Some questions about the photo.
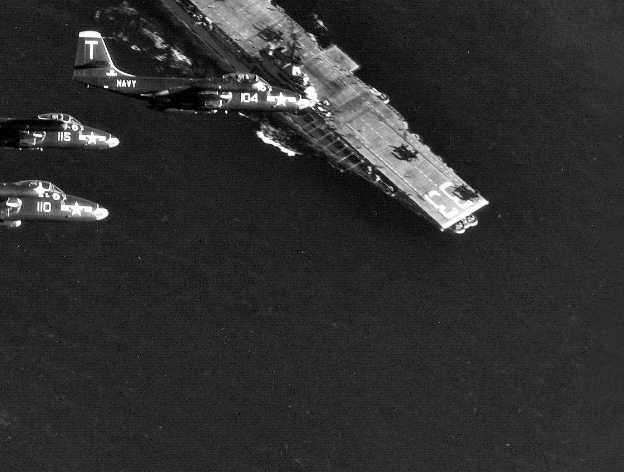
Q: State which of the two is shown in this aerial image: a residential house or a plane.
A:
plane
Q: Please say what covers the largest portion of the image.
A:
water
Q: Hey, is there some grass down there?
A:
No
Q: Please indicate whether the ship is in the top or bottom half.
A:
top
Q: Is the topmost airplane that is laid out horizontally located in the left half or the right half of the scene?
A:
left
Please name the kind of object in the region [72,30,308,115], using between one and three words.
airplane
